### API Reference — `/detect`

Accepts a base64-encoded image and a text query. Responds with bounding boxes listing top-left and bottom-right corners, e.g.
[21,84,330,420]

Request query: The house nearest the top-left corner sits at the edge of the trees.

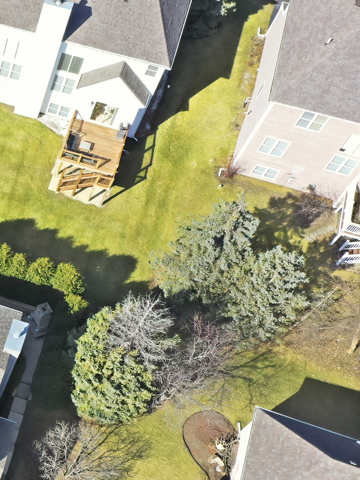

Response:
[0,0,193,152]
